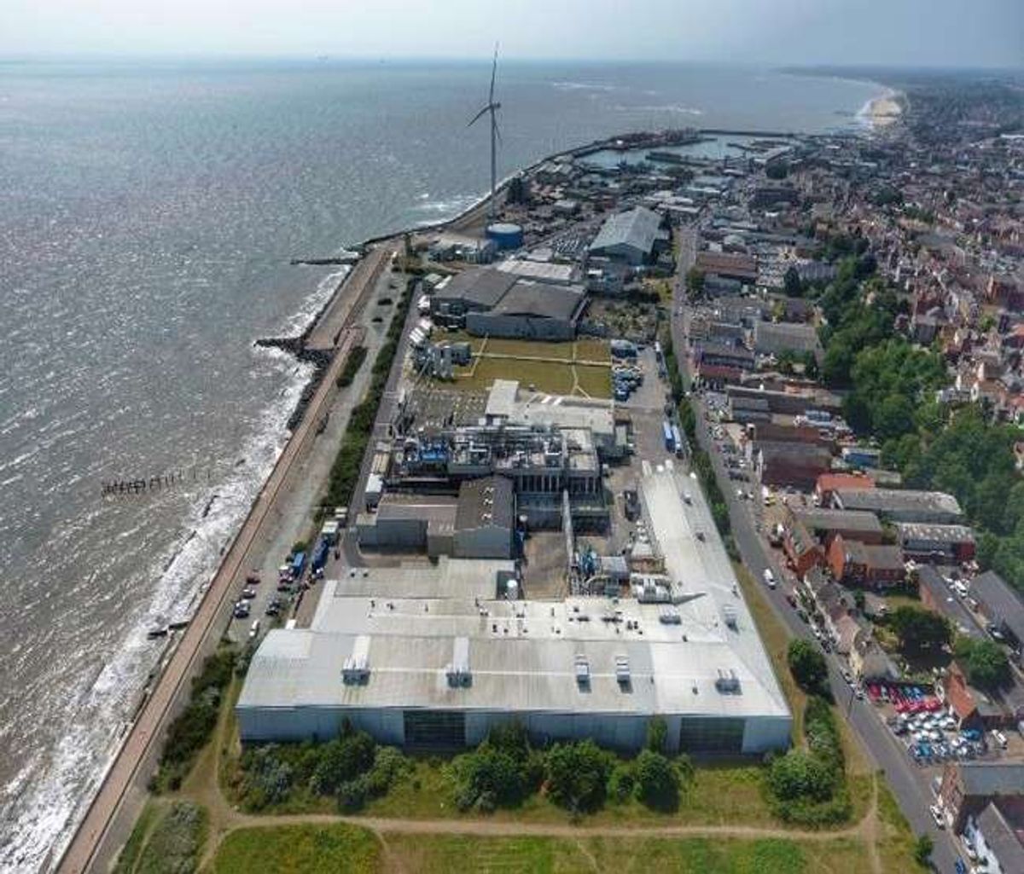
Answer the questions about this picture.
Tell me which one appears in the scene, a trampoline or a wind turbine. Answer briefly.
wind turbine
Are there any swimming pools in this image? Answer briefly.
No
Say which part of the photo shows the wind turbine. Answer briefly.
top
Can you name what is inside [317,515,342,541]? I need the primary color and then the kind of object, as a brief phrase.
white vehicle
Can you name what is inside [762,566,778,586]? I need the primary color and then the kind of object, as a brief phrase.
white vehicle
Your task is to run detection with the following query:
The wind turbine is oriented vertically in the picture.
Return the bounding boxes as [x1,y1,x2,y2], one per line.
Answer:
[465,41,502,226]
